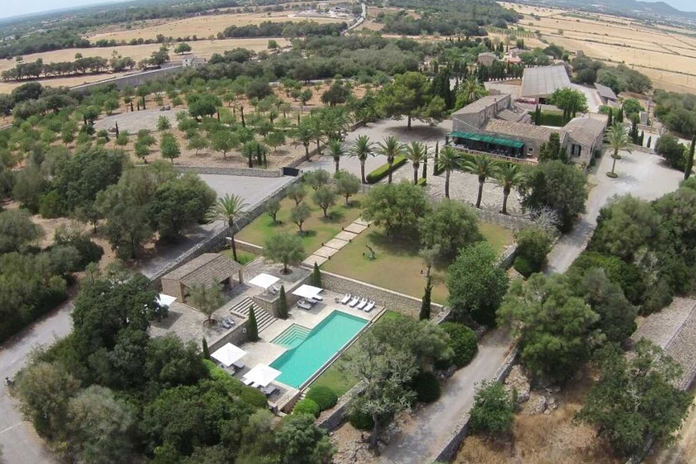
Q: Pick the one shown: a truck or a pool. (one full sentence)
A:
This aerial view contains a pool.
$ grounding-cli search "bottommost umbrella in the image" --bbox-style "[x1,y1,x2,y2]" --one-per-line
[235,363,281,397]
